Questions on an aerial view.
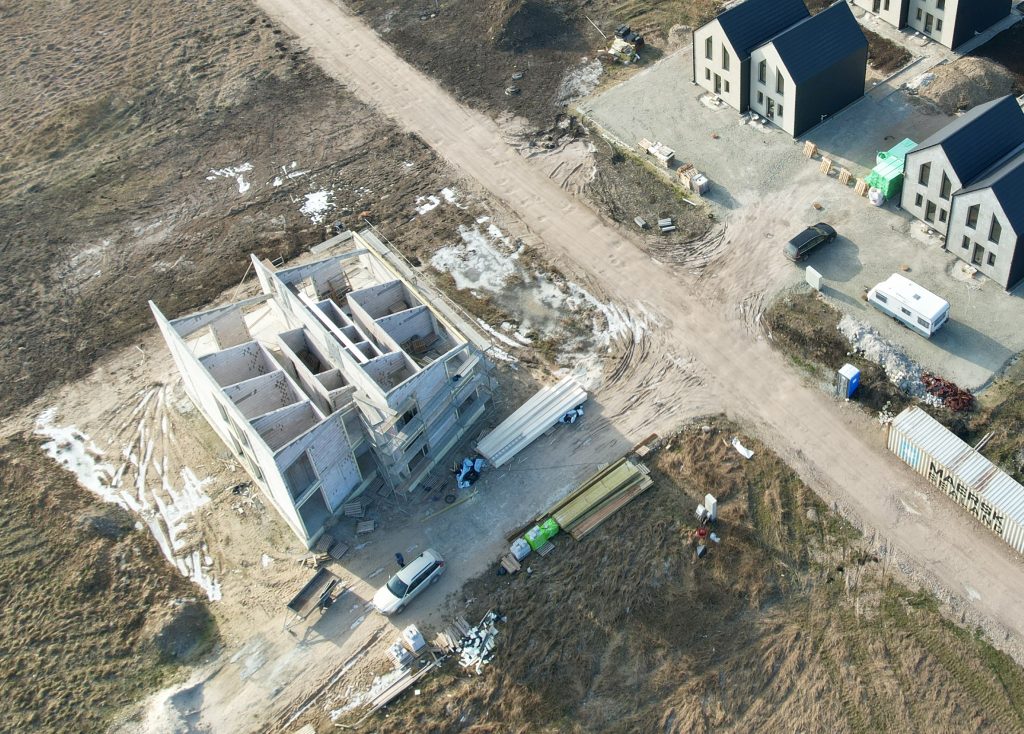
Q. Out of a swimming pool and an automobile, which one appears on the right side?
automobile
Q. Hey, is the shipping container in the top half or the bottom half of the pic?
bottom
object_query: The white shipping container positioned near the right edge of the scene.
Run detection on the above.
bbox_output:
[887,406,1024,556]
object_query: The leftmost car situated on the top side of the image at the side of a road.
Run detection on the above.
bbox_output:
[780,218,844,264]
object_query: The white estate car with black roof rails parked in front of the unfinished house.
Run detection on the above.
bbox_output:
[369,547,447,614]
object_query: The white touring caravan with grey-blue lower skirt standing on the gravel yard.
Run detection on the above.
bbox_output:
[865,266,951,335]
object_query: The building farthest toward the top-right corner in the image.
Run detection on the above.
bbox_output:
[902,0,1016,52]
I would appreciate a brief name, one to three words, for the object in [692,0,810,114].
house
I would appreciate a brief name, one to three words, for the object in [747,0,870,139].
house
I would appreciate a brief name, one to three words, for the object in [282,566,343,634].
trailer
